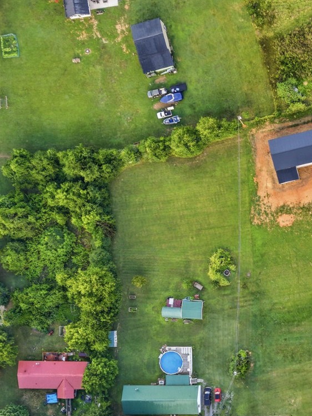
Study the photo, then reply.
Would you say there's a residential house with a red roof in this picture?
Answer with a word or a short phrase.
Yes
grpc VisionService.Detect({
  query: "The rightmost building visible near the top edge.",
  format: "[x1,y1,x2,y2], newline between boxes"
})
[131,19,174,75]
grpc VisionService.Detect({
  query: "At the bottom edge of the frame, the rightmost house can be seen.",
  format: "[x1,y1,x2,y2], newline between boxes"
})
[120,374,201,415]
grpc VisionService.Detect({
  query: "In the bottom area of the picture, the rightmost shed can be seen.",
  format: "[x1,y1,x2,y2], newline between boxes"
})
[182,301,204,319]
